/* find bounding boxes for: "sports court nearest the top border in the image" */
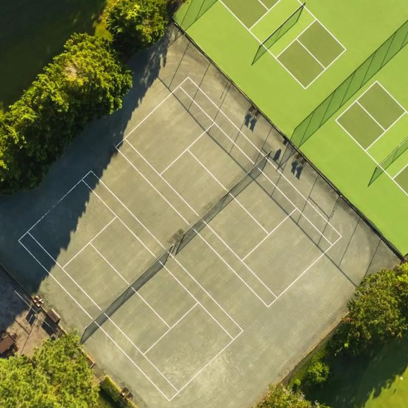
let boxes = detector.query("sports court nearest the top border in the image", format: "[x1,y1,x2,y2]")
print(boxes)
[220,0,347,89]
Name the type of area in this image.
sports ground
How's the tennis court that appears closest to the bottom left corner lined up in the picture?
on a diagonal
